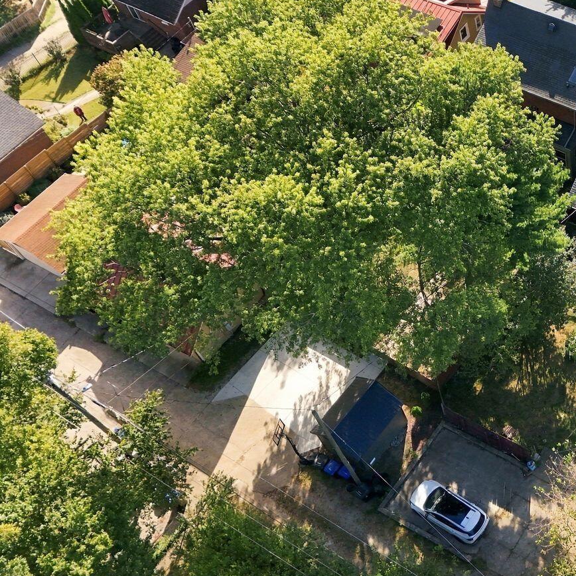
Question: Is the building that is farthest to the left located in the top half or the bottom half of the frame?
top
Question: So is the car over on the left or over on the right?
right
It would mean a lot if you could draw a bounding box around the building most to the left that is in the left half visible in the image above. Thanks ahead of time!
[0,96,54,194]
